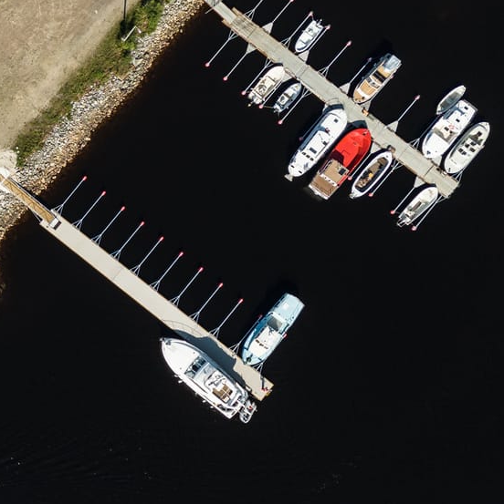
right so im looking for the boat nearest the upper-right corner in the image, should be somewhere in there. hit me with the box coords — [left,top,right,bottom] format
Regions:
[430,83,466,122]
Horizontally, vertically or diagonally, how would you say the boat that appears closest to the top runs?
diagonally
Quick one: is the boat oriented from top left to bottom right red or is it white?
white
